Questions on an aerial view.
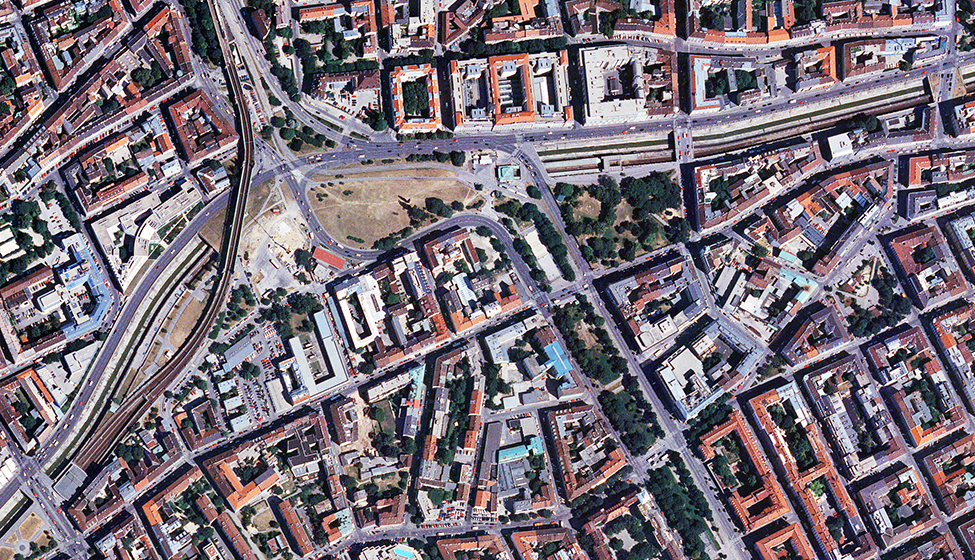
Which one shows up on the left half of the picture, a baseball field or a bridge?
bridge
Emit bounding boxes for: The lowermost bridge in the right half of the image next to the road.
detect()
[673,125,694,163]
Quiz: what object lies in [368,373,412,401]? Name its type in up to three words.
house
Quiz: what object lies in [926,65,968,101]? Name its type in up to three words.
bridge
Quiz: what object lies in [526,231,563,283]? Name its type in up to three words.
sports court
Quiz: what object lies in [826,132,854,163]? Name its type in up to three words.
building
